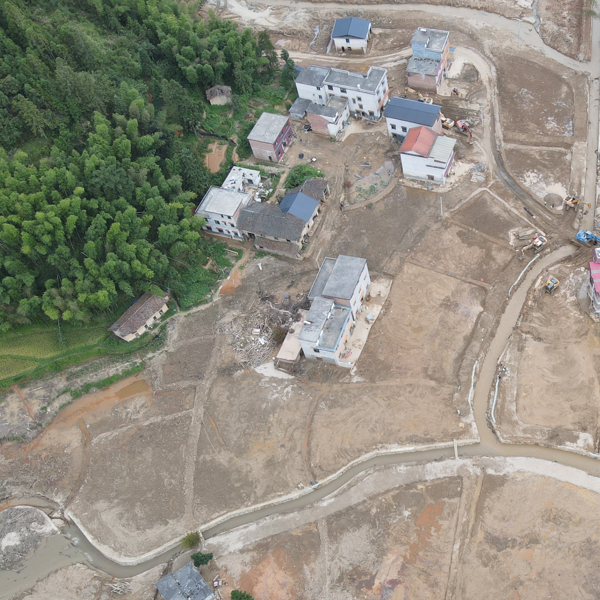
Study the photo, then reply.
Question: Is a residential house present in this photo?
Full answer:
Yes, there is a residential house in the image.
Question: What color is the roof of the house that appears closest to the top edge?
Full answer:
The color of the roof on the house that appears closest to the top edge is blue.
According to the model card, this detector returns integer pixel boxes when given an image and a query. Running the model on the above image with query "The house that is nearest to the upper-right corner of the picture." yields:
[406,26,454,93]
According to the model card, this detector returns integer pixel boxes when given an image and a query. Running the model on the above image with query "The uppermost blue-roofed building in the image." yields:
[331,16,372,54]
